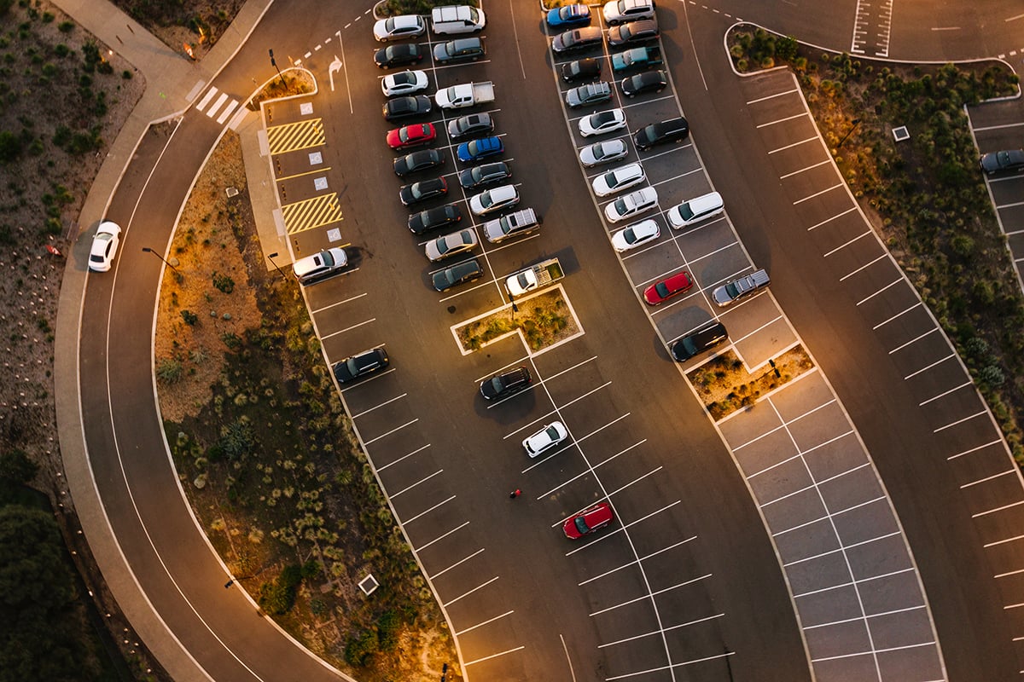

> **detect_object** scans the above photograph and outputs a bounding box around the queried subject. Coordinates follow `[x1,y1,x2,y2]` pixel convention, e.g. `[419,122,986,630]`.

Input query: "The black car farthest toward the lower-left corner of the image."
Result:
[333,346,392,382]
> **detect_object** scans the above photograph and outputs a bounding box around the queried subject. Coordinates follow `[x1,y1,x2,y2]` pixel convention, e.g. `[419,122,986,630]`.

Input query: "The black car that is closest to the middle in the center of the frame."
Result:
[477,364,535,401]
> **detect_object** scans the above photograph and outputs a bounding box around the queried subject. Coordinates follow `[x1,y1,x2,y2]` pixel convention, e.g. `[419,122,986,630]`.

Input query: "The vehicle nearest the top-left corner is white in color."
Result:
[88,221,123,273]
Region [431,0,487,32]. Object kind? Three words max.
van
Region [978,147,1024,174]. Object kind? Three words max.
car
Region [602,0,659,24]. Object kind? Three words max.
car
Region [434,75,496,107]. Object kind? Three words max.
truck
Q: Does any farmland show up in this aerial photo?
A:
No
